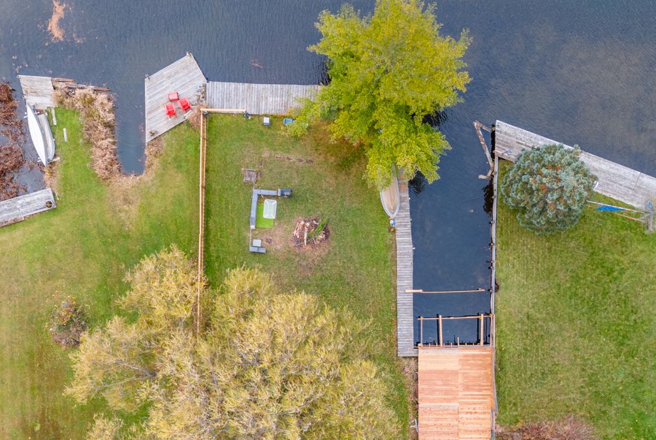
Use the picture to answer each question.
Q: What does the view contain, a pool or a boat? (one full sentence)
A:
I can see a boat in this picture.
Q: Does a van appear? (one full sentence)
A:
No, no van is visible in the scene.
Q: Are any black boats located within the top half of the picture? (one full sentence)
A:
No, no black boat is visible within the top half of the picture.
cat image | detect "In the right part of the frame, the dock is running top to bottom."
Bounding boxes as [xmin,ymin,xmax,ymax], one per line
[396,160,415,358]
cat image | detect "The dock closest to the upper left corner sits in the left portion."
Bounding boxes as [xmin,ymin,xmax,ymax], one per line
[19,76,56,108]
